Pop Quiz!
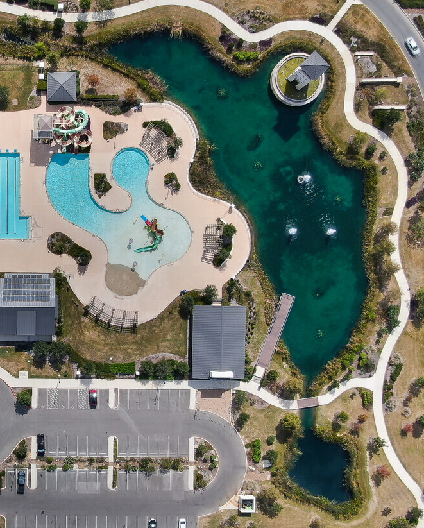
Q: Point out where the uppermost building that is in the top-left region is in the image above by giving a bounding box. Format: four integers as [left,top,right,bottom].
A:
[47,72,76,103]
